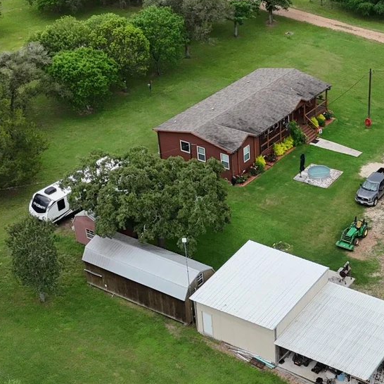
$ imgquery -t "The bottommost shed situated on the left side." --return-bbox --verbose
[79,233,216,323]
